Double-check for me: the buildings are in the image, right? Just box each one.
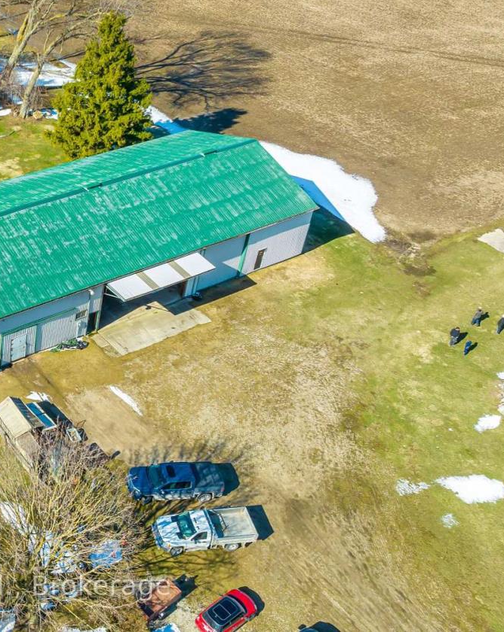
[0,395,66,488]
[0,128,321,366]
